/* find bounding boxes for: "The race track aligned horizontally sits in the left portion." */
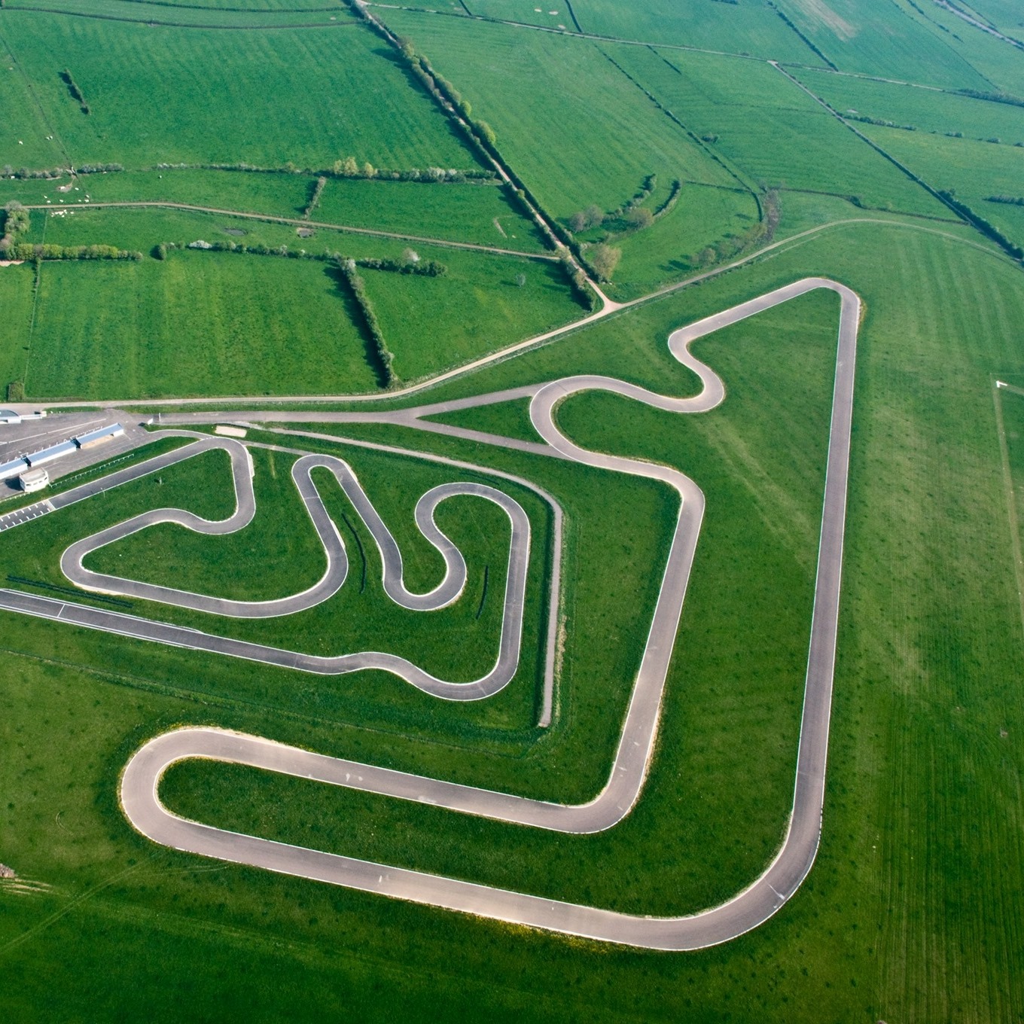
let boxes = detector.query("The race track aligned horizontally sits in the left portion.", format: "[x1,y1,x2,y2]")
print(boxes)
[0,437,531,700]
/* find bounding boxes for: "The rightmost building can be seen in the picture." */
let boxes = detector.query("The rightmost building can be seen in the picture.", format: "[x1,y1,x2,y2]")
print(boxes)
[75,422,124,448]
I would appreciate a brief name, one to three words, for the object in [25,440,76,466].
building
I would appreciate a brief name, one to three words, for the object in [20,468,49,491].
building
